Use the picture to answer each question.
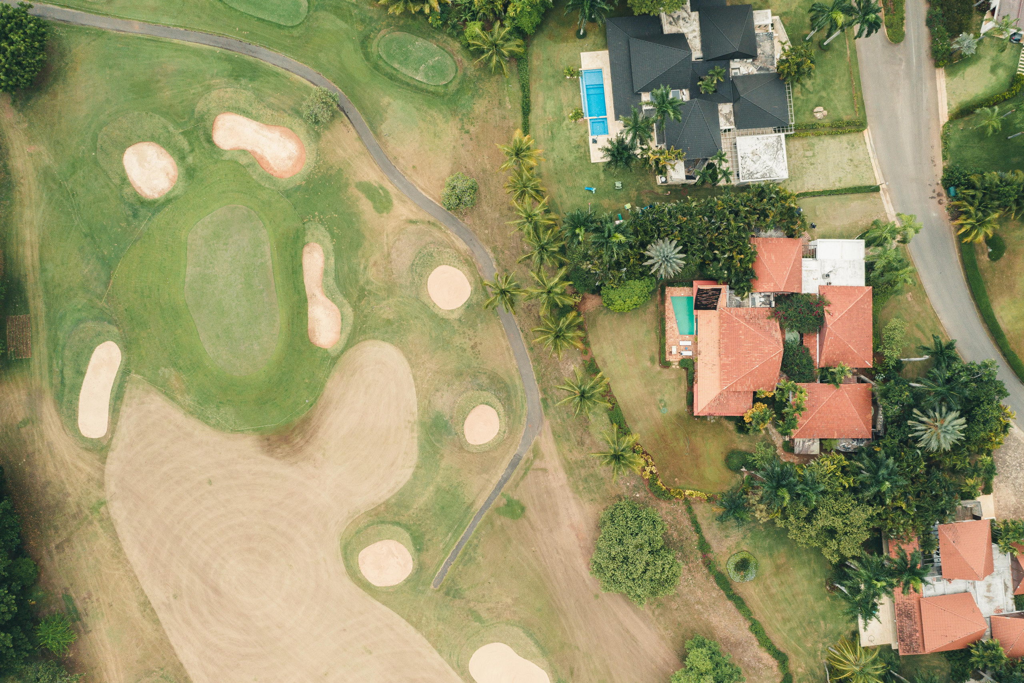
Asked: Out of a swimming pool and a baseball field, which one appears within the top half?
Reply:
swimming pool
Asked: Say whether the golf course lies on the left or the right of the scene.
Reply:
left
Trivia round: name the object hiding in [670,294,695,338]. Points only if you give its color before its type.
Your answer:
green swimming pool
